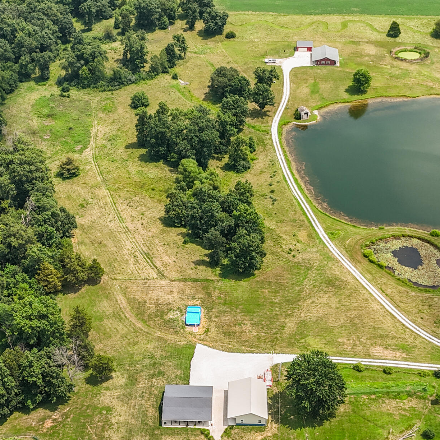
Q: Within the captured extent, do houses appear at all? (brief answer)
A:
Yes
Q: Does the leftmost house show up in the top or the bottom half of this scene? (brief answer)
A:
bottom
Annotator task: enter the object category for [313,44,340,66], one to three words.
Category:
house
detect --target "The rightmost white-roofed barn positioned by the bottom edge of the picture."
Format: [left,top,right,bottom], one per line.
[226,377,267,426]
